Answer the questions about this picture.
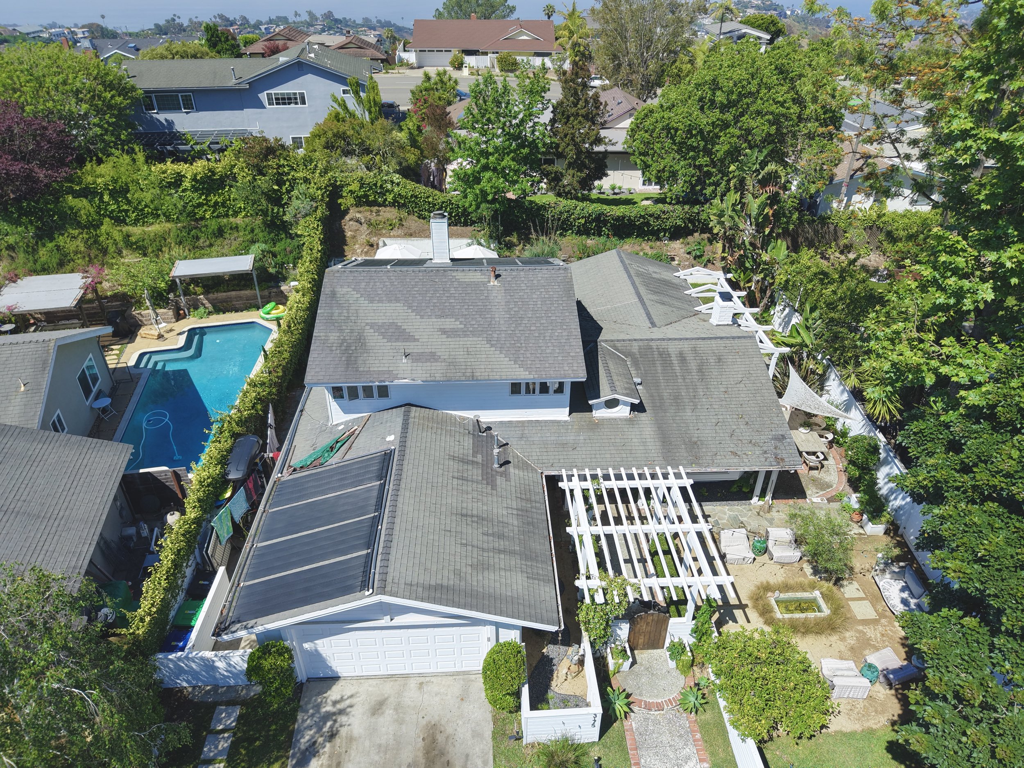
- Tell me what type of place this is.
residential area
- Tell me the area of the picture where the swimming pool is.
left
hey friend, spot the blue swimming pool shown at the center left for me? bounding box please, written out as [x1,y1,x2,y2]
[109,316,282,468]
